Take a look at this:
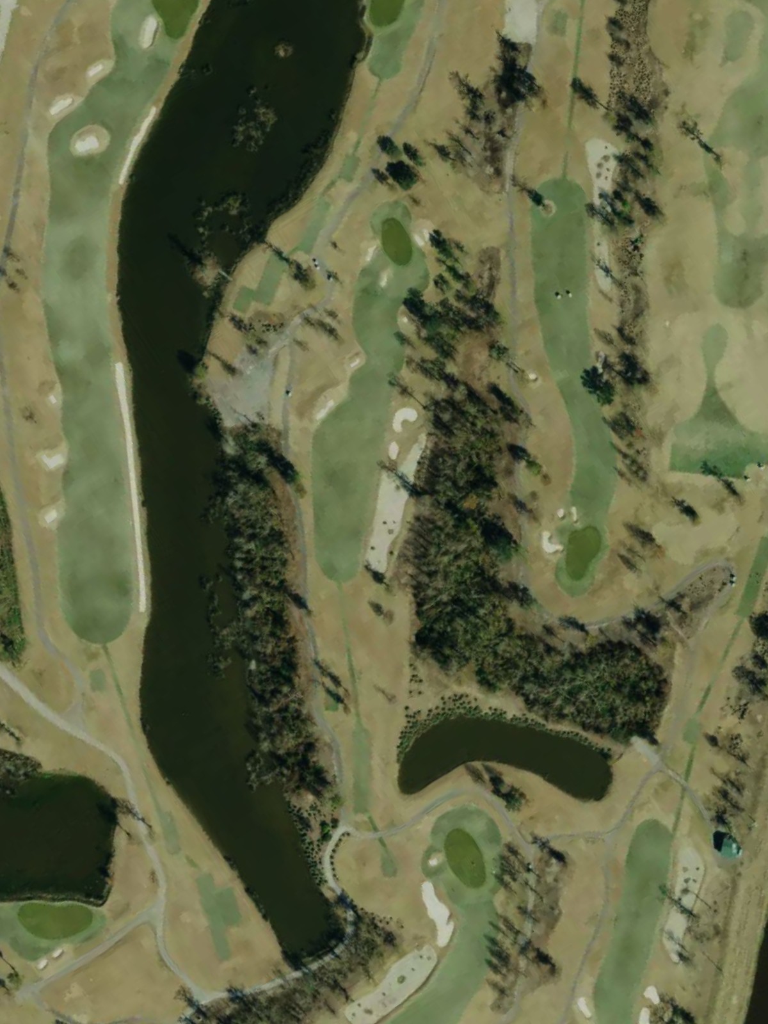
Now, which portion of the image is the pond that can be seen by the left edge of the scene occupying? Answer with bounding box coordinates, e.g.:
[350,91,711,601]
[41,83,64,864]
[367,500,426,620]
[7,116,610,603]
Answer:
[0,773,118,904]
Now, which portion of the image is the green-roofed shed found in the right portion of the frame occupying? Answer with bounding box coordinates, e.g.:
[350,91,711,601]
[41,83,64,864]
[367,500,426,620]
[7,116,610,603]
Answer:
[718,839,740,860]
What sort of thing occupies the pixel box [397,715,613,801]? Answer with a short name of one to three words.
pond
